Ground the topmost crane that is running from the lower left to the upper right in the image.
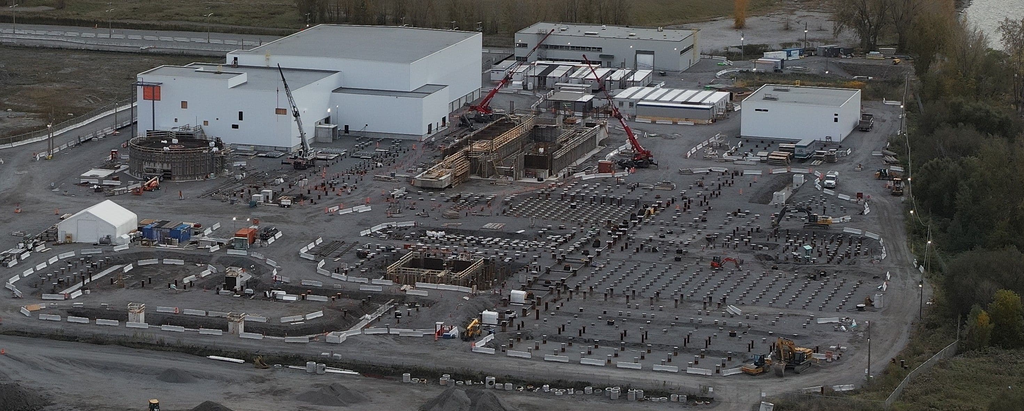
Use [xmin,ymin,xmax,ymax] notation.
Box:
[459,28,555,124]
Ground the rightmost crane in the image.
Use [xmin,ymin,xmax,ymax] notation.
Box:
[581,53,664,171]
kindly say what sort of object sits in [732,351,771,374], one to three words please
work vehicle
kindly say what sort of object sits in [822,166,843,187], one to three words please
truck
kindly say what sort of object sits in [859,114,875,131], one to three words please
vehicle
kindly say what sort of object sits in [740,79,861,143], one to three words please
building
